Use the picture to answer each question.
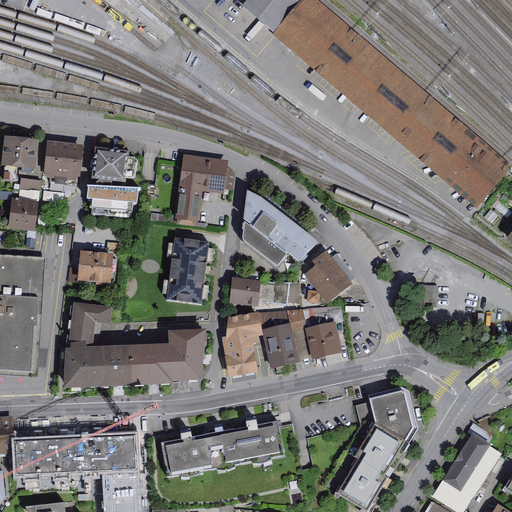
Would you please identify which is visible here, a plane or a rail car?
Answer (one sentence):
This aerial view contains a rail car.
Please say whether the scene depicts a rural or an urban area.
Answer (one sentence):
From above, the setting appears urban.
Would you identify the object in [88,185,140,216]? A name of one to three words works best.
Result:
house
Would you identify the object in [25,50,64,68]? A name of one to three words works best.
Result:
rail car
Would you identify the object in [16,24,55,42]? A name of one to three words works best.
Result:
rail car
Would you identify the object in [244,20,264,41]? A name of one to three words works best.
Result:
vehicle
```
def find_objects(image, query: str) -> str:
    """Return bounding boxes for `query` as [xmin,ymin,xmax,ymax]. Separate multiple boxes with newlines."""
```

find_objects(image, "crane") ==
[0,404,158,472]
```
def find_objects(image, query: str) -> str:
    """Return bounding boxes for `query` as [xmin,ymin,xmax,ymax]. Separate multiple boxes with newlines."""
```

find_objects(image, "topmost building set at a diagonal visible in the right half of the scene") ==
[273,0,510,208]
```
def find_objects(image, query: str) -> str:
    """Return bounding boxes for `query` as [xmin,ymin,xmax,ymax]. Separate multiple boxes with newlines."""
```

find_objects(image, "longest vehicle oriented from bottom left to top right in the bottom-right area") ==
[468,360,503,389]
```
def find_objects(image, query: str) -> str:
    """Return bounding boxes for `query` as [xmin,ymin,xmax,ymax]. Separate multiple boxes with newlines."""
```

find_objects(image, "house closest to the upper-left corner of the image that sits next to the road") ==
[2,135,39,168]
